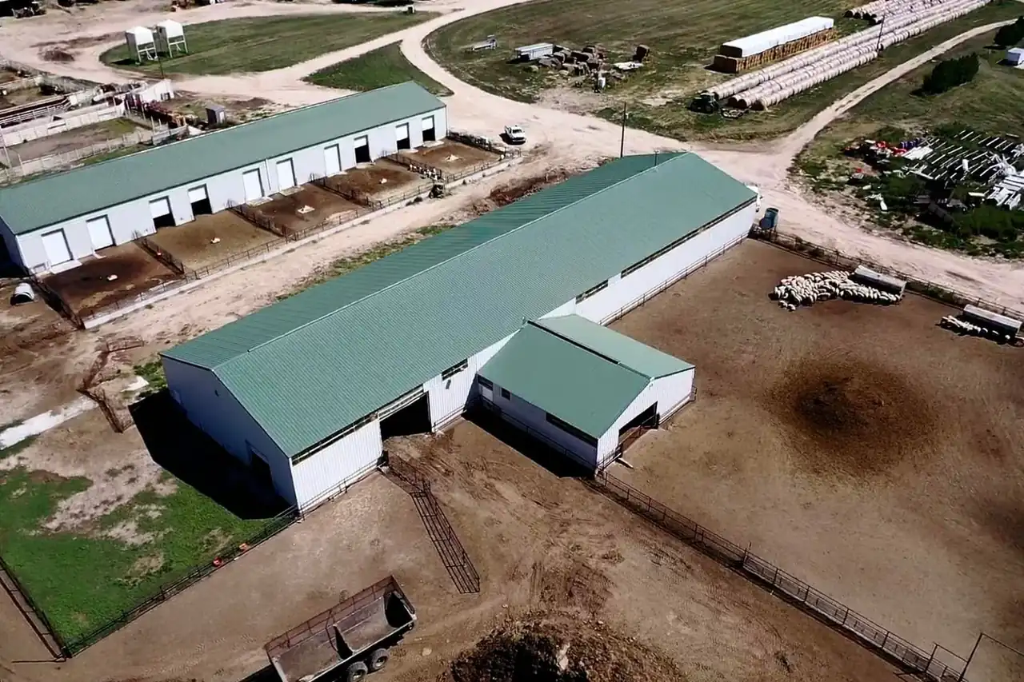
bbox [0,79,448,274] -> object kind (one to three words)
barn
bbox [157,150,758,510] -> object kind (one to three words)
barn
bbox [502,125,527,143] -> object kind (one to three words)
vehicle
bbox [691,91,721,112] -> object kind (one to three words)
work vehicle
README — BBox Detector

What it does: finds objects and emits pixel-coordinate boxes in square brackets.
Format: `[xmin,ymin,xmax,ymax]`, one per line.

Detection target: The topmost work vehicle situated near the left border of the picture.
[28,1,45,15]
